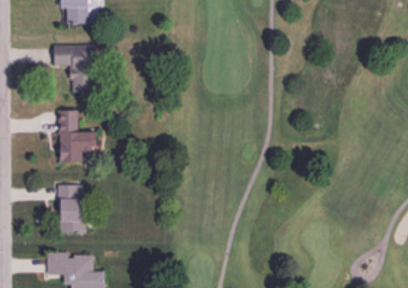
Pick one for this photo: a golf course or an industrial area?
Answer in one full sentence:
It's a golf course.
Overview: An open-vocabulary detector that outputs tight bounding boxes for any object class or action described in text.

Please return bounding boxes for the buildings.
[60,0,87,24]
[58,185,86,235]
[46,253,105,288]
[54,46,88,94]
[57,111,96,162]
